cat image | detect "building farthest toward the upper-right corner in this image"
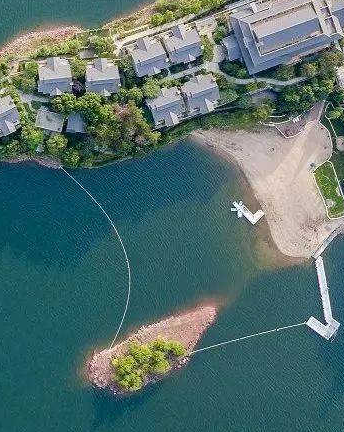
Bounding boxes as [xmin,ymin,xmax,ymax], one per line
[217,0,344,74]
